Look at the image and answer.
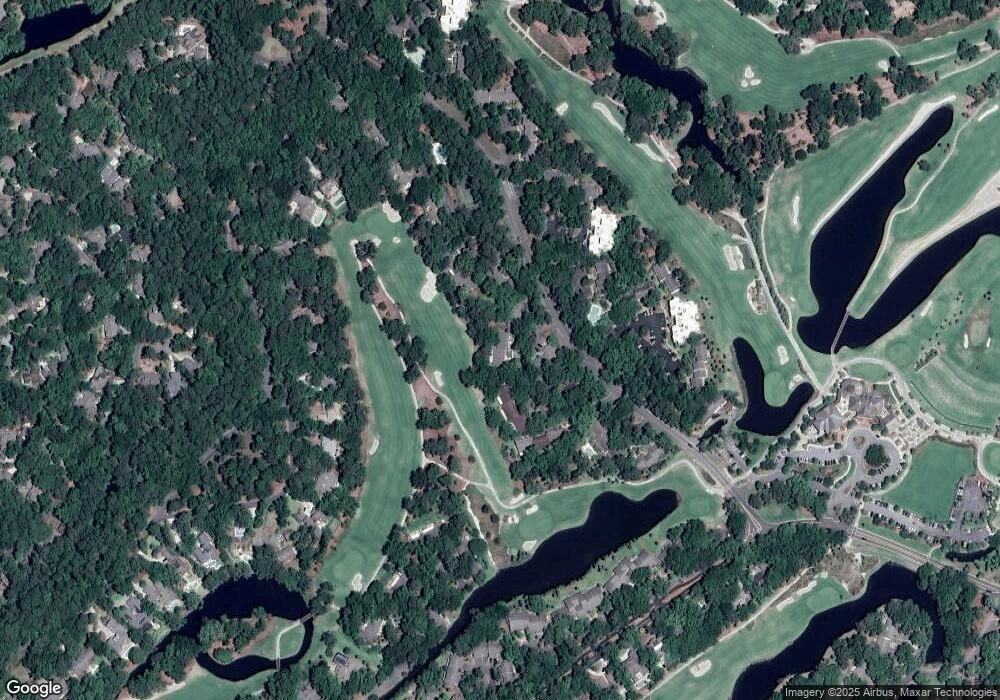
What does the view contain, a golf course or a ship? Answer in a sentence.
Visible in the photo is a golf course.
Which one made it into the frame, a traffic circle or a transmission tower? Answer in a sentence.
Of the two, only a traffic circle appears.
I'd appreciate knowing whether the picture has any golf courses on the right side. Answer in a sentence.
Yes, you'll find a golf course on the right side.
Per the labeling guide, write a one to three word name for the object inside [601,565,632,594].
building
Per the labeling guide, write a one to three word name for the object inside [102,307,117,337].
house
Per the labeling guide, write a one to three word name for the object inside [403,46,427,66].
swimming pool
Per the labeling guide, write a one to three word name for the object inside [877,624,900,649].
house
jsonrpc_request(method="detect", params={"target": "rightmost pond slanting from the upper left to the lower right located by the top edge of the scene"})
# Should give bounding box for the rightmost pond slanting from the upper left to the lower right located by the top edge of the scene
[571,0,731,174]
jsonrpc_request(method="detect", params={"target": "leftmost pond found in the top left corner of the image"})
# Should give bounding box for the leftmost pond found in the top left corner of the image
[0,1,112,63]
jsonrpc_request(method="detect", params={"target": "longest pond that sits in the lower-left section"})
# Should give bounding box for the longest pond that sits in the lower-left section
[127,574,315,684]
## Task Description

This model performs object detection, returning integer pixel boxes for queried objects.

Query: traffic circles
[846,429,900,495]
